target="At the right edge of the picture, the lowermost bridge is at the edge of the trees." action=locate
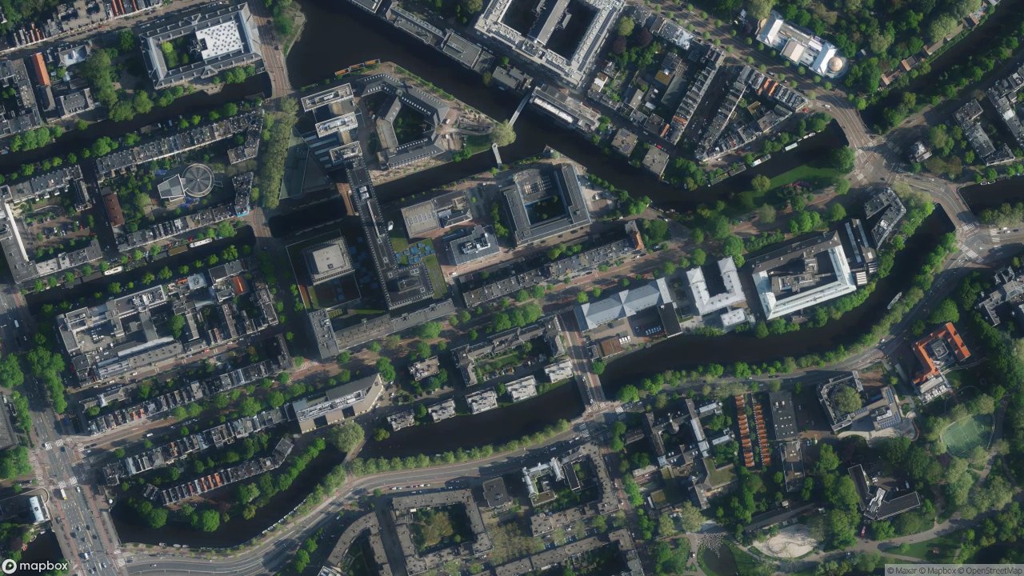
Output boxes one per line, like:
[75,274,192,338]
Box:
[932,184,980,232]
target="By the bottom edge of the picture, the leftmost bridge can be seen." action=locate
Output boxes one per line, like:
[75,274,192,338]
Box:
[49,503,126,576]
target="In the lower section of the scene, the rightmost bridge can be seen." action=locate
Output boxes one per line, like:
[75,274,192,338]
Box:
[572,367,608,411]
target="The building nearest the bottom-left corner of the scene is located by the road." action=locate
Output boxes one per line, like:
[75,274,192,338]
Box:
[0,495,45,525]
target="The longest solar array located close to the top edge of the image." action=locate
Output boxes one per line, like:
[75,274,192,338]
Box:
[578,9,616,71]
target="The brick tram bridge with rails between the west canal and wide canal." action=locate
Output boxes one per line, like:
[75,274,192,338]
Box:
[269,56,295,98]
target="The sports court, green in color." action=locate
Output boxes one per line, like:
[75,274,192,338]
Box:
[943,413,995,460]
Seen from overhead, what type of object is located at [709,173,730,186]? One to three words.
boat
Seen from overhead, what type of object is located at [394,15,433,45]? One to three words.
house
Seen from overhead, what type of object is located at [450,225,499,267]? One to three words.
building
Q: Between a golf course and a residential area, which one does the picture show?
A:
residential area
